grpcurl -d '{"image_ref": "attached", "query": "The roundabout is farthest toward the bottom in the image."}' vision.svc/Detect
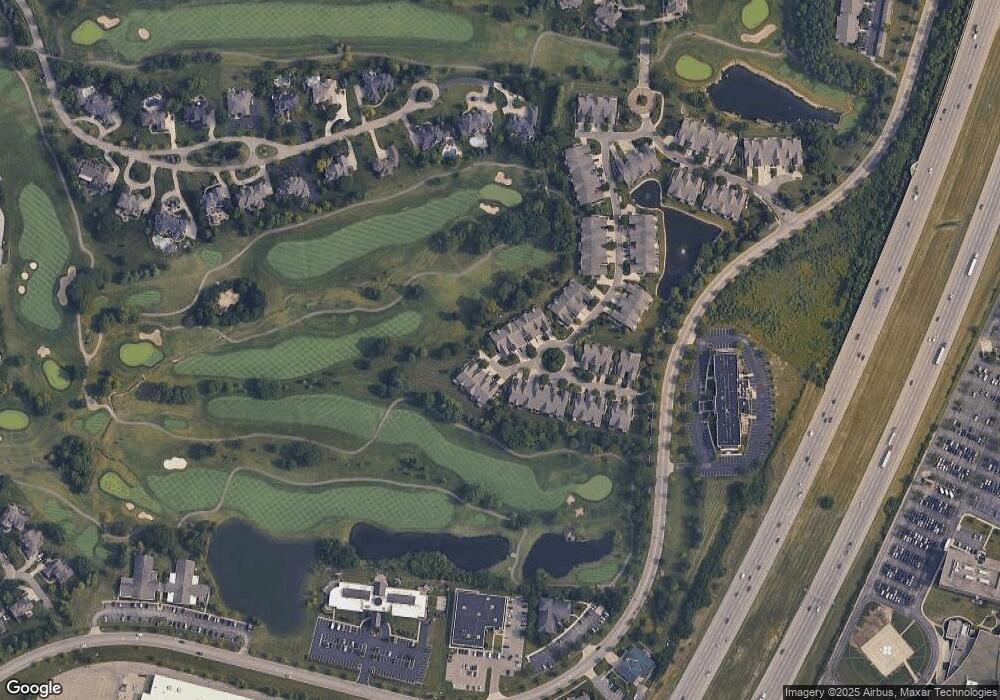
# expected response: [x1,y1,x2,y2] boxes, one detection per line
[531,338,575,382]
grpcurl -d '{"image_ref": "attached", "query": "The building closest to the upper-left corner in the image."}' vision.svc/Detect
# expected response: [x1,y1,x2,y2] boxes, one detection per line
[77,87,115,125]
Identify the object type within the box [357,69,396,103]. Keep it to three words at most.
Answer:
house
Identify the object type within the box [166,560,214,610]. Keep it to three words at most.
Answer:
building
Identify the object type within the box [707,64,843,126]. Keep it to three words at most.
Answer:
pond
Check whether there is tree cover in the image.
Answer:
Yes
